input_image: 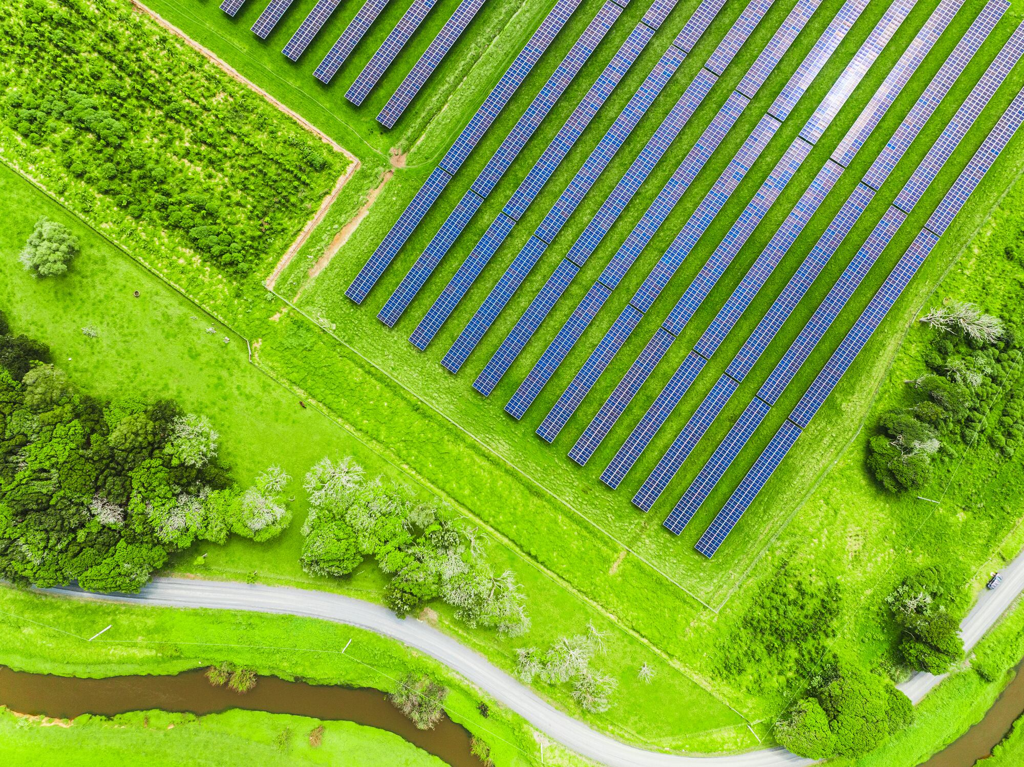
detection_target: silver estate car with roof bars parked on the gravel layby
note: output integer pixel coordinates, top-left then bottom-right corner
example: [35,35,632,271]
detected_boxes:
[986,572,1002,589]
